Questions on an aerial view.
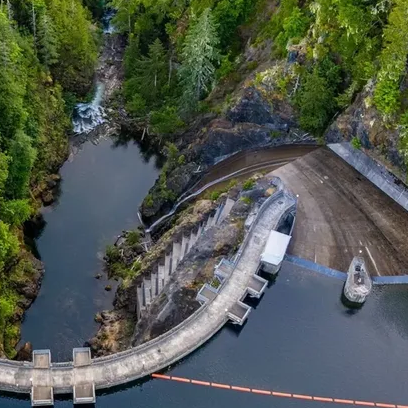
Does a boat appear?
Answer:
No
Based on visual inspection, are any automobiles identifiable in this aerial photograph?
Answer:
No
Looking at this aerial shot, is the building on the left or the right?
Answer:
right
